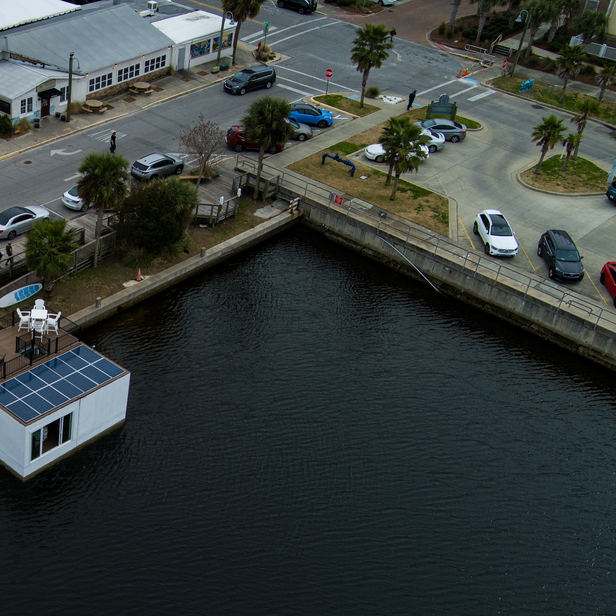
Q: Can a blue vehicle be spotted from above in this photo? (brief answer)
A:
Yes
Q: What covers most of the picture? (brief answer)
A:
water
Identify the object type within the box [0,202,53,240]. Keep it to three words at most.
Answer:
car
